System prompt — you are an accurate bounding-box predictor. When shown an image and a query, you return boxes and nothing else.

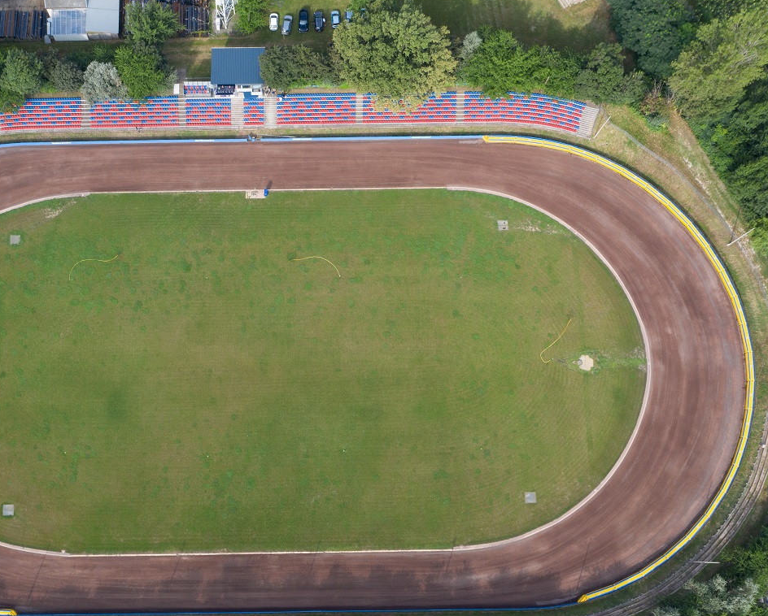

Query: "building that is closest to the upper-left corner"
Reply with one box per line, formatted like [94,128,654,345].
[44,0,89,41]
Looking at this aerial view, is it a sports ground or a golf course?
sports ground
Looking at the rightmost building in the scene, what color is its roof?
blue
